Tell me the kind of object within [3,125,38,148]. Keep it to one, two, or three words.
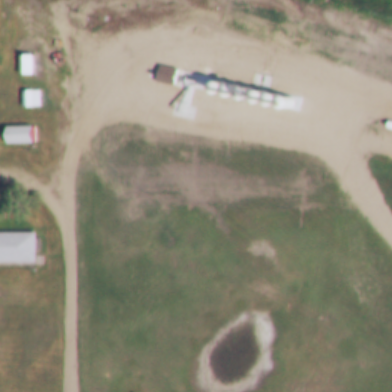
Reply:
shed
